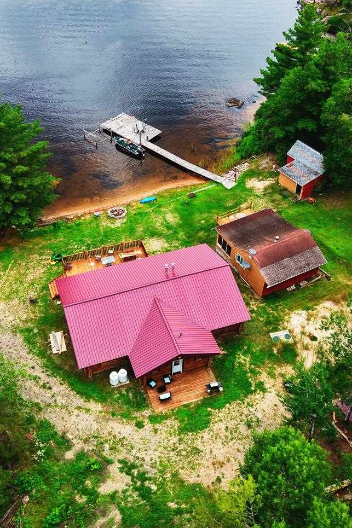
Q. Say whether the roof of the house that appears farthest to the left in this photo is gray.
No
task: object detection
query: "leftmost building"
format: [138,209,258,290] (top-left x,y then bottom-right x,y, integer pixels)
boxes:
[49,239,251,413]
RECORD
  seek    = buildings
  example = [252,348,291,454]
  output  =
[212,205,326,299]
[49,239,251,413]
[278,145,324,197]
